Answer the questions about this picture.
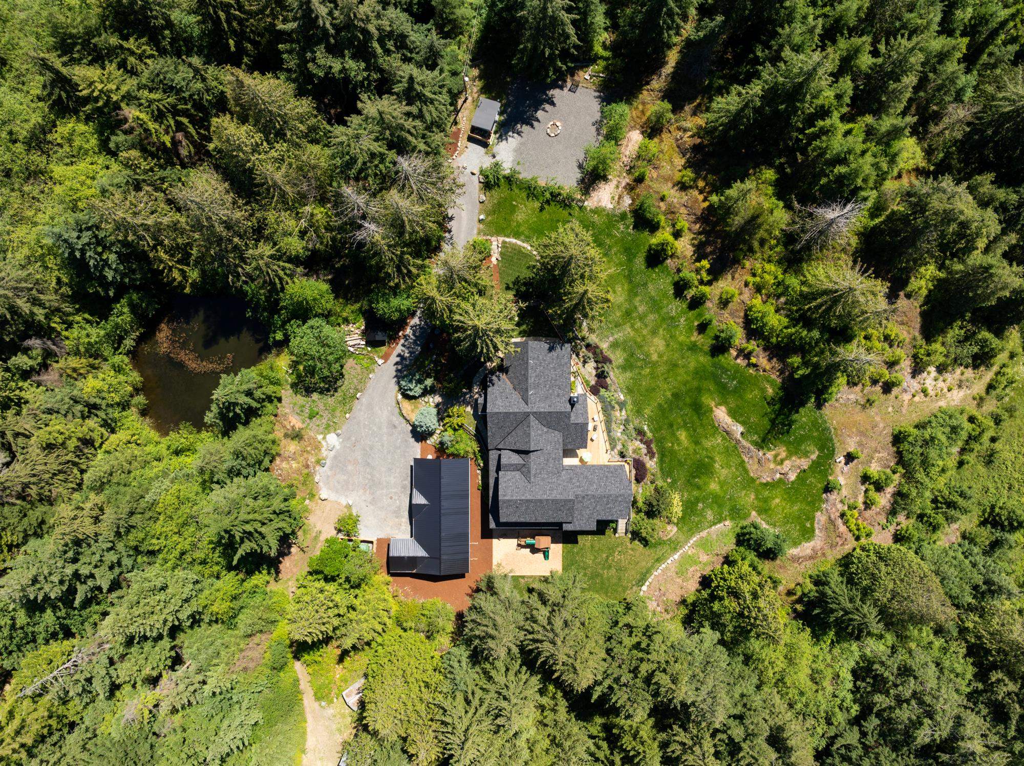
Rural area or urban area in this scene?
rural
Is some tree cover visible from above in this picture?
Yes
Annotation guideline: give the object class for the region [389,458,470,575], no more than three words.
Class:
building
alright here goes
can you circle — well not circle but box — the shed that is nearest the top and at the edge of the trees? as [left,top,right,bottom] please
[469,97,502,148]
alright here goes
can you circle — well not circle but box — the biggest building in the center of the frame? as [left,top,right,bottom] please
[478,341,632,531]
